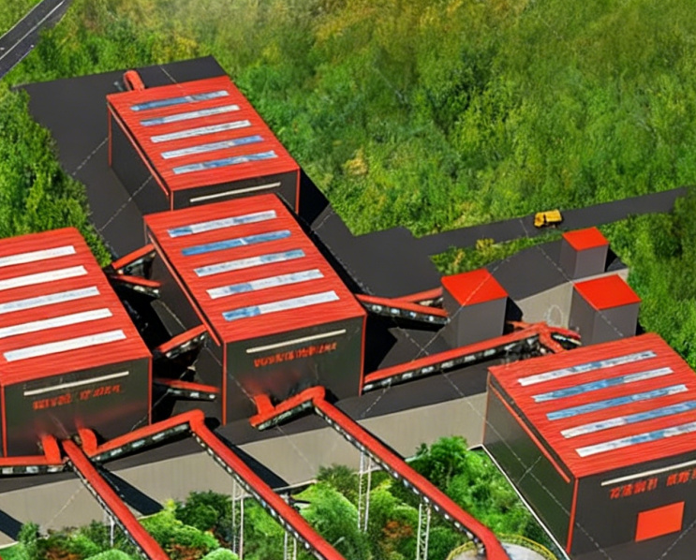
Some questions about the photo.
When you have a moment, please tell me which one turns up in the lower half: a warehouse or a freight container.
warehouse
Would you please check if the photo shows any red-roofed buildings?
Yes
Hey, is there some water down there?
No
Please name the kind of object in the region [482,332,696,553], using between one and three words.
warehouse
